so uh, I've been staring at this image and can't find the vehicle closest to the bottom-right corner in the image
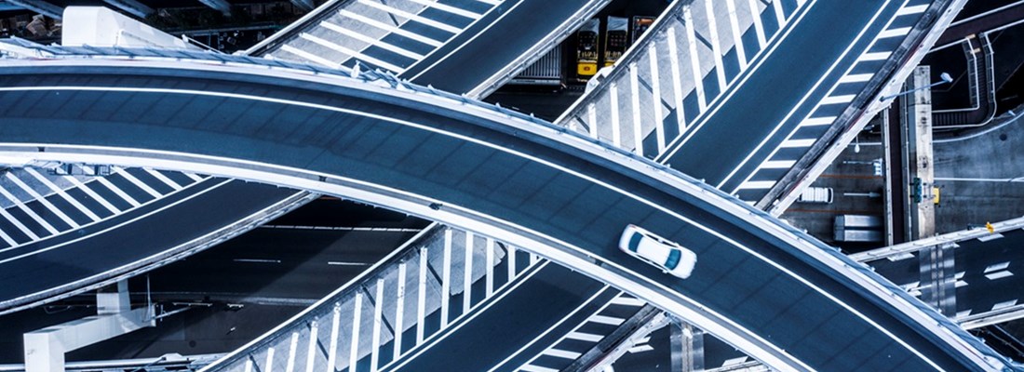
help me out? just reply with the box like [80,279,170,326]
[830,216,886,242]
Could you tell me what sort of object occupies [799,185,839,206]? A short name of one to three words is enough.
vehicle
